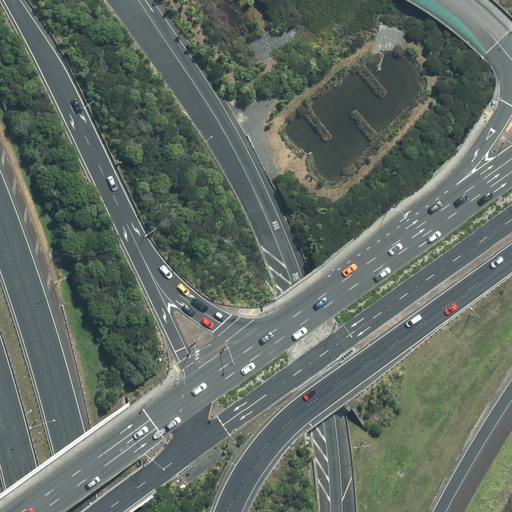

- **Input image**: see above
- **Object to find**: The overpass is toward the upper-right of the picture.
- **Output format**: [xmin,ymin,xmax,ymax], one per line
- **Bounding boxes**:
[402,0,512,60]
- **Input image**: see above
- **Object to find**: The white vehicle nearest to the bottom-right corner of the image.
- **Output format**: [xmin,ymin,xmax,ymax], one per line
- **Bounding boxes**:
[406,314,424,328]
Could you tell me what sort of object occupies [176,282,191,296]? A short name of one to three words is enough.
car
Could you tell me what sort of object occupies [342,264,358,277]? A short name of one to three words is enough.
vehicle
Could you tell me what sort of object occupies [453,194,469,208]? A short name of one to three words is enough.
vehicle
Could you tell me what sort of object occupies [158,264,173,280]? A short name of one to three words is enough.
car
